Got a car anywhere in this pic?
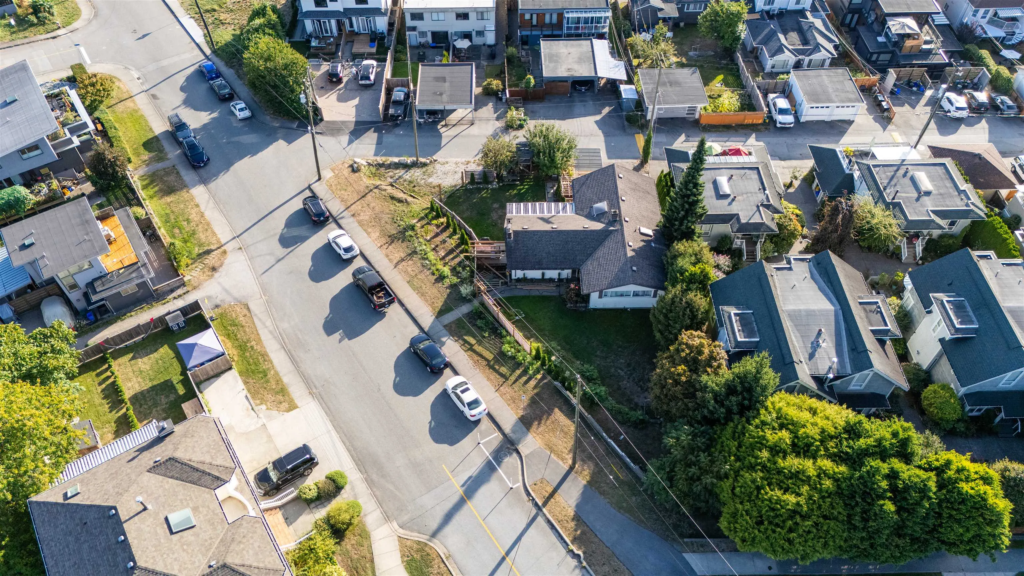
Yes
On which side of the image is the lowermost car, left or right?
left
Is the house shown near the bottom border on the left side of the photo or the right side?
left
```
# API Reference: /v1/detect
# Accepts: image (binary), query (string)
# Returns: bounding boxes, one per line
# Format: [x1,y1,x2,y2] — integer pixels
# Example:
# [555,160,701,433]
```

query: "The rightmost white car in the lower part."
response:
[443,371,489,425]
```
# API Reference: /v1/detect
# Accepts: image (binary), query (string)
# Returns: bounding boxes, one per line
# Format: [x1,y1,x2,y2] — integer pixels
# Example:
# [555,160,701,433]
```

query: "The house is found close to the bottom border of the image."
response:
[26,413,296,576]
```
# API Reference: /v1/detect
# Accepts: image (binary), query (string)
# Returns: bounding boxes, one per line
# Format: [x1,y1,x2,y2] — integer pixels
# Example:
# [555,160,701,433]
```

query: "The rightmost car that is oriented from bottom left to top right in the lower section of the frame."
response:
[250,443,325,500]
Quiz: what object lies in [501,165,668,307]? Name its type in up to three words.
house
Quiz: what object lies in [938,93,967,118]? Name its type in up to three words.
car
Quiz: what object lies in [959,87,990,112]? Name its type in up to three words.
car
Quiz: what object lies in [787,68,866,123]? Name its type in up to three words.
building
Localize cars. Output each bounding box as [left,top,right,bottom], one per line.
[328,59,346,82]
[387,88,408,120]
[351,263,396,315]
[767,93,794,128]
[938,93,967,118]
[229,101,252,122]
[299,192,330,227]
[325,226,359,264]
[408,328,451,376]
[359,62,377,86]
[574,79,591,93]
[988,92,1020,117]
[250,443,325,500]
[166,109,195,144]
[197,60,221,83]
[959,87,990,112]
[209,79,234,103]
[443,371,489,425]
